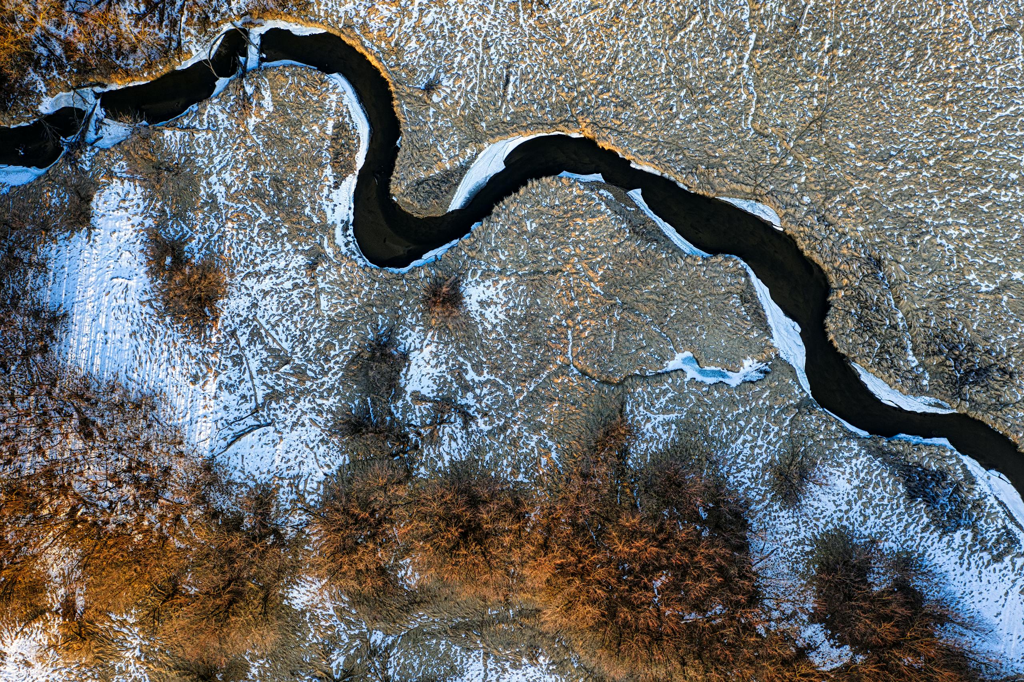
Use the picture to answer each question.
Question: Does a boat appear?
No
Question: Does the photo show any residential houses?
No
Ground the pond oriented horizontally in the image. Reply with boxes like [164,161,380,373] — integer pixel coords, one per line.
[651,351,770,390]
